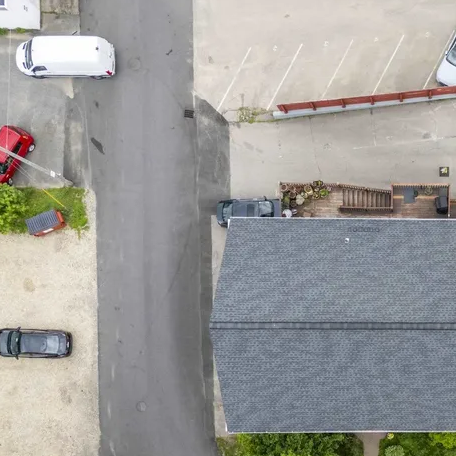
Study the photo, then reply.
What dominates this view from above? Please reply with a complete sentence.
What you mostly see from above here is paved ground.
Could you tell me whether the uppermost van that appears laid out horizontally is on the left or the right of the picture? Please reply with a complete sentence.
The uppermost van that appears laid out horizontally appears in the left half of the scene.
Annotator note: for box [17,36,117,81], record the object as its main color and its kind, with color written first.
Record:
white van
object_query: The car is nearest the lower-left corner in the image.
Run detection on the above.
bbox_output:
[0,325,71,361]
